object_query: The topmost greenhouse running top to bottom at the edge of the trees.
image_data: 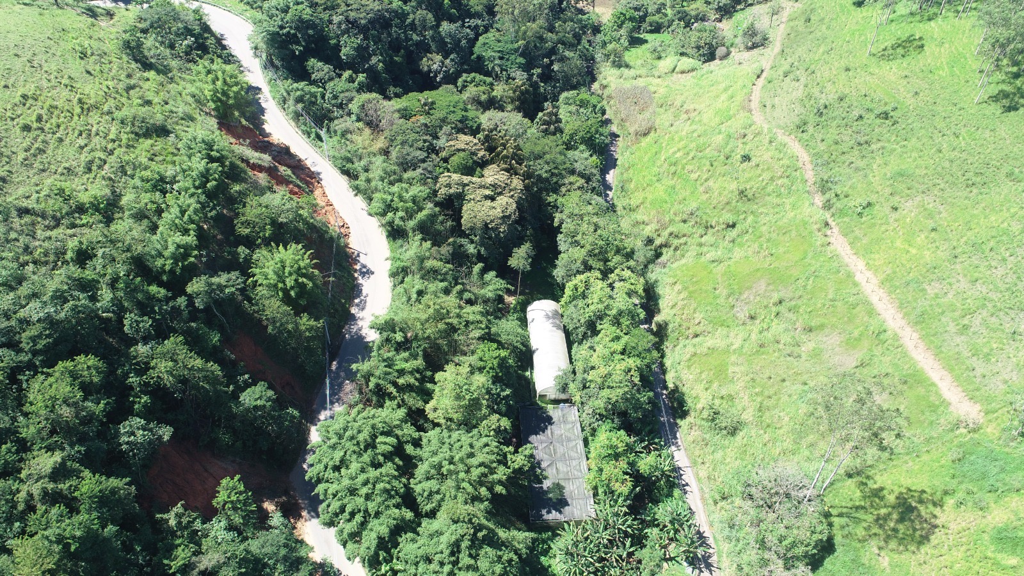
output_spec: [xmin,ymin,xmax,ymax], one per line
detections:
[527,304,572,400]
